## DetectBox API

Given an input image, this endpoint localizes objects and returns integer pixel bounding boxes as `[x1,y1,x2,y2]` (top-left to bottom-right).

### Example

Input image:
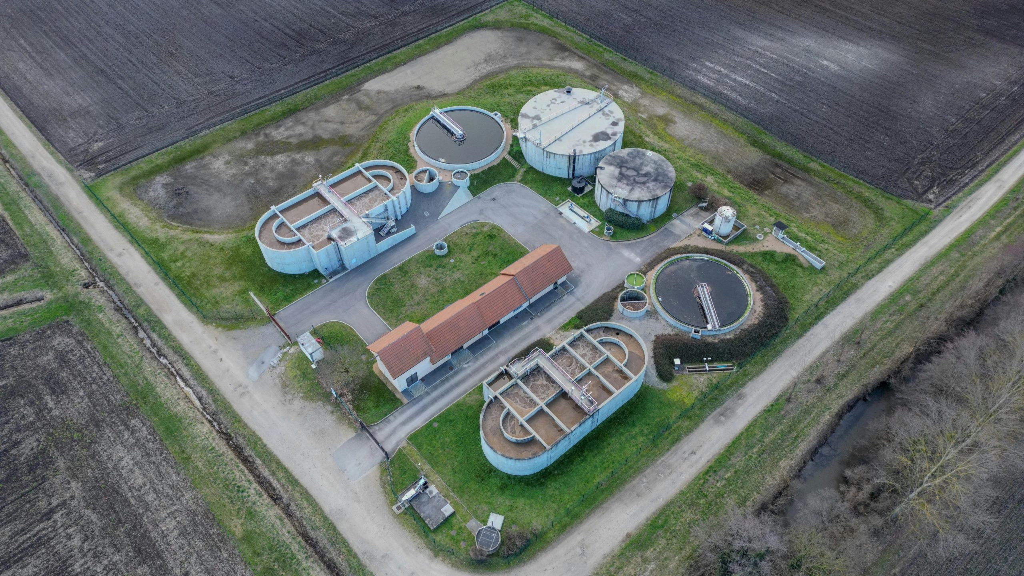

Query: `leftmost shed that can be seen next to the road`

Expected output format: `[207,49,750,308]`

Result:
[297,332,324,363]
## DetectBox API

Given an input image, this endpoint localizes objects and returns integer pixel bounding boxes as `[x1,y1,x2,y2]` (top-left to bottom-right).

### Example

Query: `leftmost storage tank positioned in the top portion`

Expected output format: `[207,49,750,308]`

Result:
[257,159,417,282]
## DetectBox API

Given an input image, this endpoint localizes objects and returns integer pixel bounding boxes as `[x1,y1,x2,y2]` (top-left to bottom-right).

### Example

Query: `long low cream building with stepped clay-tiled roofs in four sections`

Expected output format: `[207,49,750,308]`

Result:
[367,243,575,391]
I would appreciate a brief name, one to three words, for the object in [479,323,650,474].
storage tank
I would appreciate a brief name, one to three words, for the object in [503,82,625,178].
storage tank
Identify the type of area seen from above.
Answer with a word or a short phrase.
industrial area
